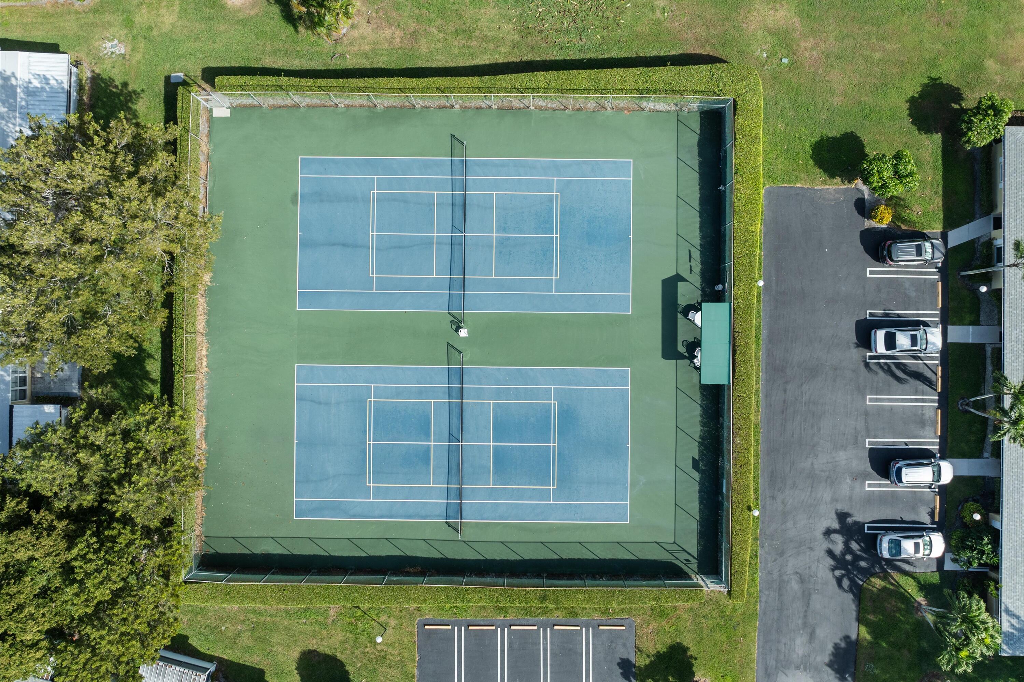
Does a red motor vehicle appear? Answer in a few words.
No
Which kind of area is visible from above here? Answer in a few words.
sports ground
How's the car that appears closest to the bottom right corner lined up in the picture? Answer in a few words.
horizontally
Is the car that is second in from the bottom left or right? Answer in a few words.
right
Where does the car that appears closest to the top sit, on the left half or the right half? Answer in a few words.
right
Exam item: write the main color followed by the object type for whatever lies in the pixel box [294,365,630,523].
blue tennis court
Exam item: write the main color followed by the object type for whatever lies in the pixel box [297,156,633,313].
blue tennis court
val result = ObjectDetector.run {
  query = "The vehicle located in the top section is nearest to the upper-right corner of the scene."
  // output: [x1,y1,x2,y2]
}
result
[877,234,946,268]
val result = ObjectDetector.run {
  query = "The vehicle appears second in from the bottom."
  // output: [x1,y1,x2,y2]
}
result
[887,457,954,490]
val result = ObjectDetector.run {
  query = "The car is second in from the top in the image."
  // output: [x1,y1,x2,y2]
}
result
[869,324,943,357]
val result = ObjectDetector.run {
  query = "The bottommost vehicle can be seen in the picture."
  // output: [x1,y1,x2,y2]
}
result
[875,529,946,562]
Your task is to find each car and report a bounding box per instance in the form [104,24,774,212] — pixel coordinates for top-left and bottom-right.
[869,324,943,357]
[875,529,946,562]
[887,457,954,490]
[877,234,946,268]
